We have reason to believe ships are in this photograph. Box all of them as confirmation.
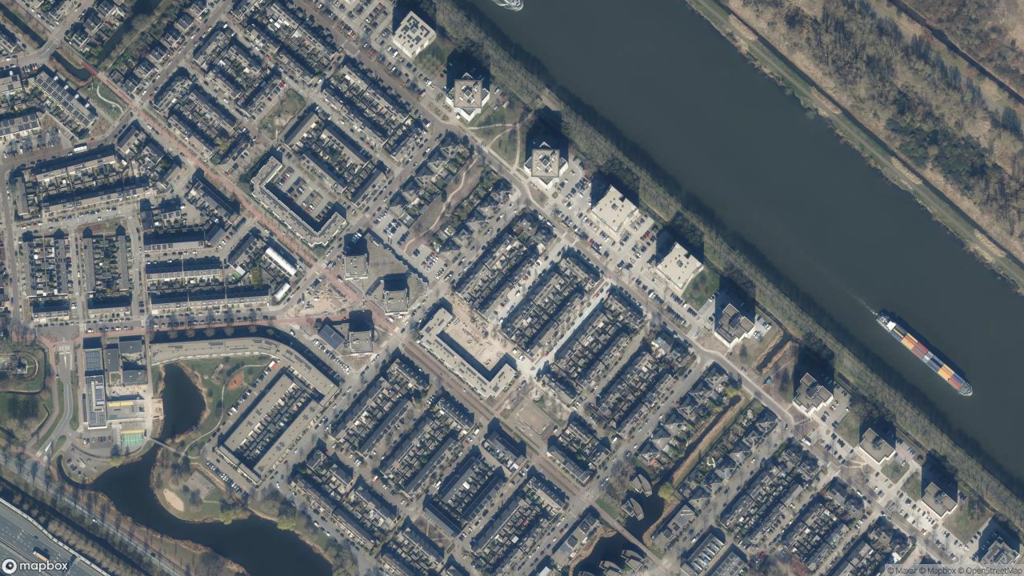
[874,315,973,394]
[502,0,523,10]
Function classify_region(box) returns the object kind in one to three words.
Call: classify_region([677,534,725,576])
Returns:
building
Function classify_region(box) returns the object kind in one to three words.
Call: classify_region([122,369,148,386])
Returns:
building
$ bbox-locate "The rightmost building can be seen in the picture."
[980,537,1021,576]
